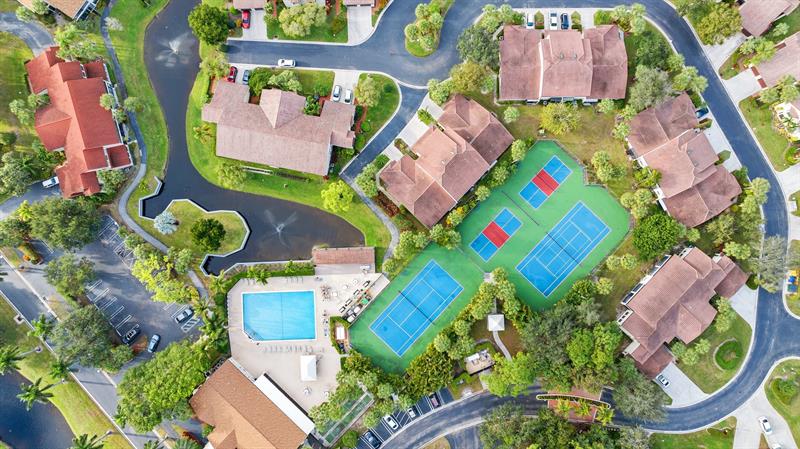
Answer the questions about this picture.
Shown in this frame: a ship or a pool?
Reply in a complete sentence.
The image shows a pool.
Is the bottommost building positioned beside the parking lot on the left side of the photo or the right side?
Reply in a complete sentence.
The bottommost building positioned beside the parking lot is on the left side of the image.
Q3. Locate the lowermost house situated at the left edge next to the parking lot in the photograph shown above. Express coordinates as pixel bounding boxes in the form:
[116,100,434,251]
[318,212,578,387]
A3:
[16,44,139,197]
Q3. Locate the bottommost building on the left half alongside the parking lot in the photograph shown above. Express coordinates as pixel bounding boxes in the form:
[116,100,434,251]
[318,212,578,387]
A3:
[188,355,325,449]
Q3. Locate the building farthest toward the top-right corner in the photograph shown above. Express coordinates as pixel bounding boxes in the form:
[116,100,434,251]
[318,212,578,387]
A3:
[734,0,795,37]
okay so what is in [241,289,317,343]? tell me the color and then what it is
blue swimming pool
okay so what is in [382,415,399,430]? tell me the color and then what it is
white car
